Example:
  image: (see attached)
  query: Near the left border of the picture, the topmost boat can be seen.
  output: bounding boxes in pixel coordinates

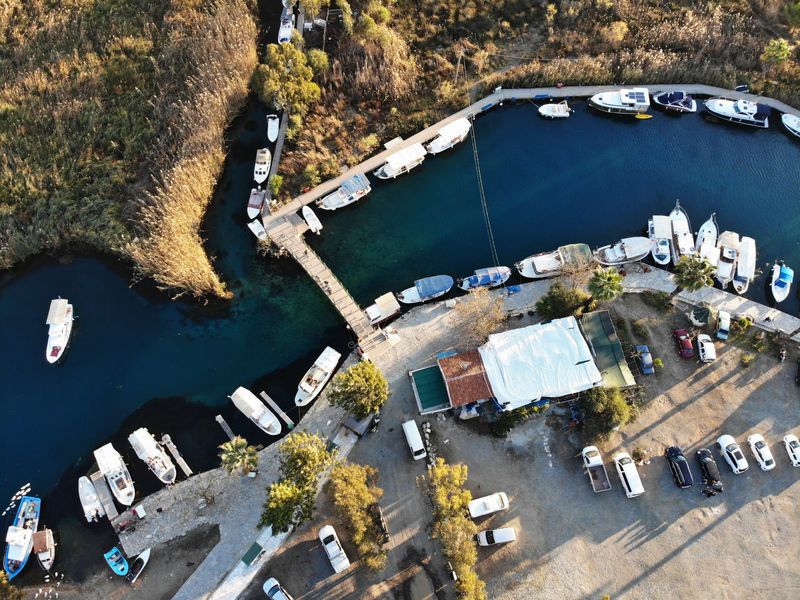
[38,289,74,362]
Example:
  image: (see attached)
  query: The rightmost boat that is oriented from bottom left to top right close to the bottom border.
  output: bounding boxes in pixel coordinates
[127,548,152,583]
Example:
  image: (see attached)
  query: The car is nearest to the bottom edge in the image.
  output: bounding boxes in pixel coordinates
[261,575,295,600]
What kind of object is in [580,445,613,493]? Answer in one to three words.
truck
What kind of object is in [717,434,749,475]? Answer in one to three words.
car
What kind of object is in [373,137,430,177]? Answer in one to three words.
boat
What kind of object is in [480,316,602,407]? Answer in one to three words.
building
